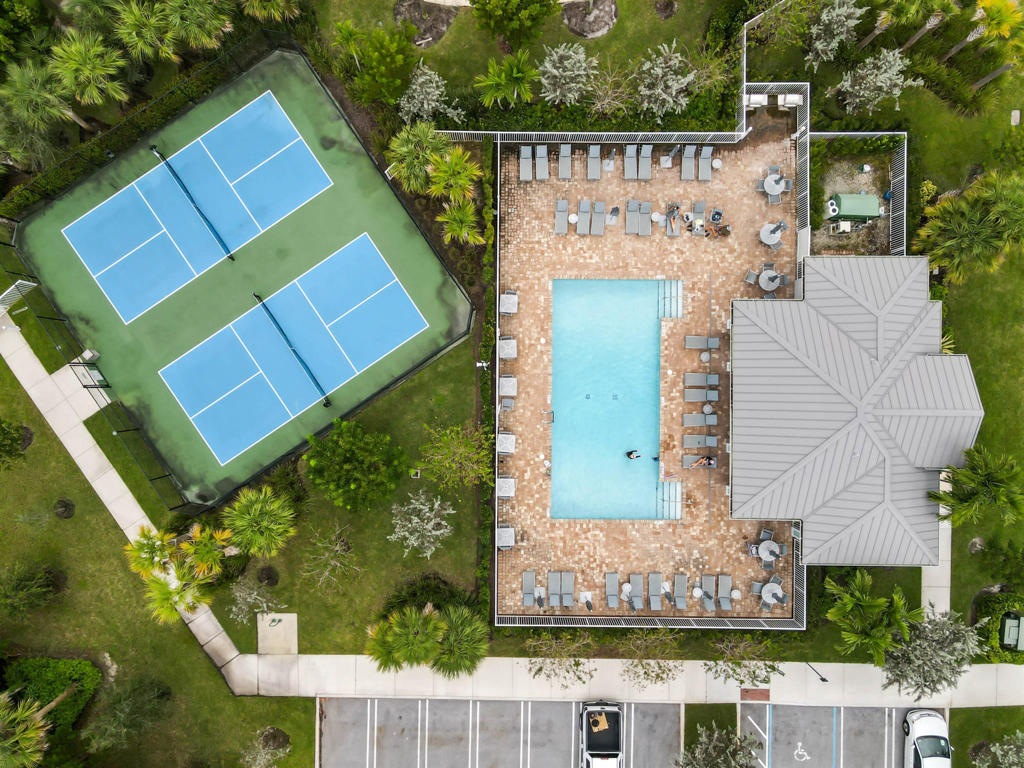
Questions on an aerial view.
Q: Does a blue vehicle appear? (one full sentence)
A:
No, I can't see a single blue vehicle in this photo.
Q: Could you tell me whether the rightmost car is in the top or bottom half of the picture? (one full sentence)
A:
The rightmost car is in the bottom half of the image.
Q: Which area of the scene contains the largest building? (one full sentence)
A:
The largest building is in the right part of the image.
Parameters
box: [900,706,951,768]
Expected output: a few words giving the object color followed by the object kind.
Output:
white car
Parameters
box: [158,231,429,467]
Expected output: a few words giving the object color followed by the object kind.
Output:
blue sports court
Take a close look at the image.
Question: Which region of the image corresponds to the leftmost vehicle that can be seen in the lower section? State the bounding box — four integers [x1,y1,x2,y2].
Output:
[580,692,623,768]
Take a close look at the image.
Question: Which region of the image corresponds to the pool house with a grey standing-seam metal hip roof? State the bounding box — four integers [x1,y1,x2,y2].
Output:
[726,255,988,567]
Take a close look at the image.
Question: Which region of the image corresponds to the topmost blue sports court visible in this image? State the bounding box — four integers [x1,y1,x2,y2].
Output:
[60,89,334,325]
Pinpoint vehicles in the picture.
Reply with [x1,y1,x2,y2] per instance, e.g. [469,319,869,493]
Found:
[580,692,623,768]
[900,706,951,768]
